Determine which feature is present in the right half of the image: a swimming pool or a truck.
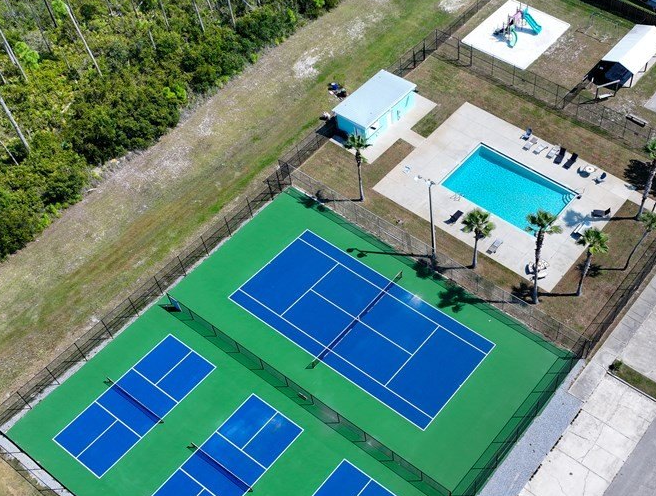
swimming pool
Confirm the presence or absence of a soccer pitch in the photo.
No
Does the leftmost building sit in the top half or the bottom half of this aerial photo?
top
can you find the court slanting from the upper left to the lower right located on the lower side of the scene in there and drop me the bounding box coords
[161,186,580,496]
